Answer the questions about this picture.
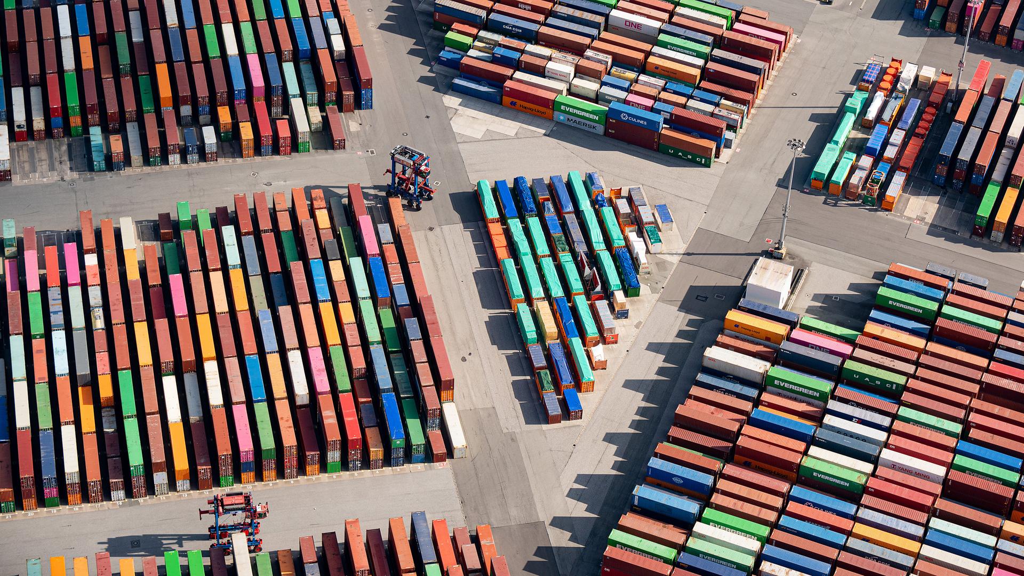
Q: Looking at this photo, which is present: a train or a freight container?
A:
freight container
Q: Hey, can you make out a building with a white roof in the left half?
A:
No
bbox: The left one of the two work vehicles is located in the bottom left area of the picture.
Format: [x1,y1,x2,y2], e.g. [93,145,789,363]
[199,487,270,555]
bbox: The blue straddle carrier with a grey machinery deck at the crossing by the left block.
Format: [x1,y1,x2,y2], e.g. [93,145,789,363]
[382,143,437,210]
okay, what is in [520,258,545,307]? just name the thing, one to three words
shipping container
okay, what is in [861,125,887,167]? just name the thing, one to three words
shipping container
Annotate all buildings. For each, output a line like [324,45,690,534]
[744,257,793,310]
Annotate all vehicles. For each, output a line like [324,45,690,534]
[382,143,437,210]
[199,487,270,555]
